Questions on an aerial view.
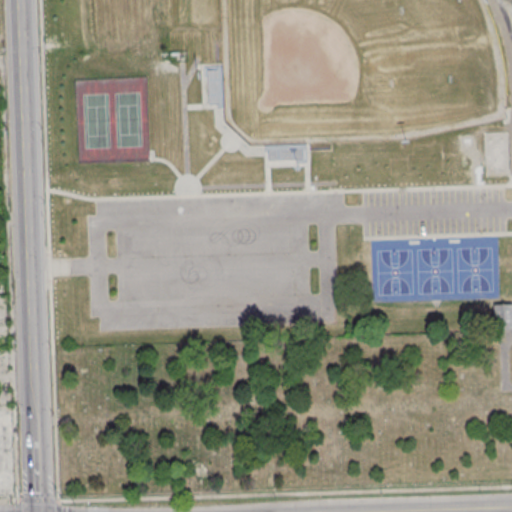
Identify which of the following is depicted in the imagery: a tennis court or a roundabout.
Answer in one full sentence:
Of the two, only a tennis court appears.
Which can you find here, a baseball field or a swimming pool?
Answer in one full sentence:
Visible in the photo is a baseball field.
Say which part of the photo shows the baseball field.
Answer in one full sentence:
Look in the top portion of the view to spot the baseball field.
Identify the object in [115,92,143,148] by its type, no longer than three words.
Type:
tennis court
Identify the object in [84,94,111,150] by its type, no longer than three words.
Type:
tennis court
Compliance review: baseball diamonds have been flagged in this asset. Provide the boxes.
[256,6,361,114]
